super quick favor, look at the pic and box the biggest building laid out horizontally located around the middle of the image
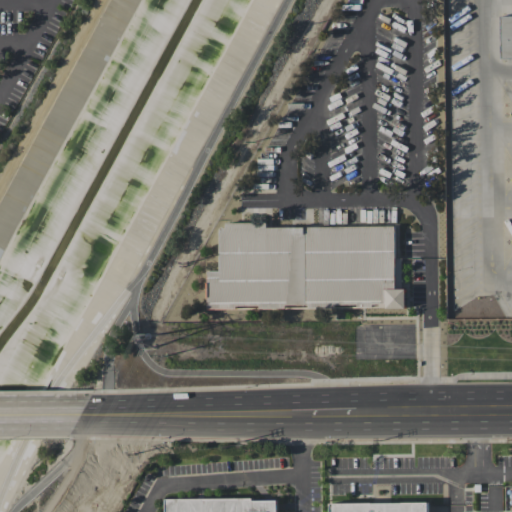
[208,223,404,310]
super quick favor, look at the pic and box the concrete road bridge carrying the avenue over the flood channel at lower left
[0,390,114,439]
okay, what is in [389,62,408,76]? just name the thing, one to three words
camper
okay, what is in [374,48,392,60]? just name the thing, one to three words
vehicle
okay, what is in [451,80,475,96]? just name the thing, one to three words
vehicle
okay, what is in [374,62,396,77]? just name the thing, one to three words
camper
